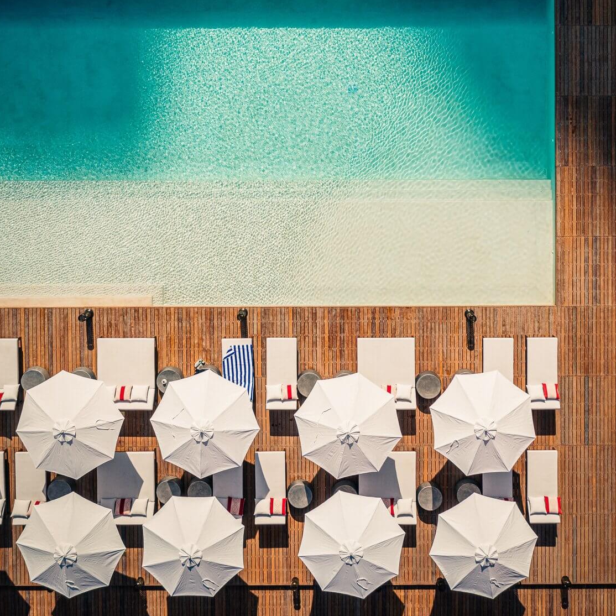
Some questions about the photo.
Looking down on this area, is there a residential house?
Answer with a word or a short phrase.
No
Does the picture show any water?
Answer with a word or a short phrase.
Yes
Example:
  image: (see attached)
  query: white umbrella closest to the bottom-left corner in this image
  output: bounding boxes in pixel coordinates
[16,491,127,600]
